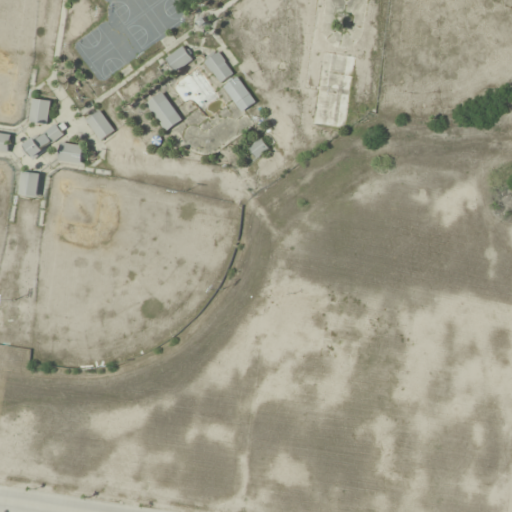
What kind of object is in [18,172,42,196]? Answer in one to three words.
building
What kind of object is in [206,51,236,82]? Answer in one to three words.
building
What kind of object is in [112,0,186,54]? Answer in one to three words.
basketball court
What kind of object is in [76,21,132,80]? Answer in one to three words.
basketball court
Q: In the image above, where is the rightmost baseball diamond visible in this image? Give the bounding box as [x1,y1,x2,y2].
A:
[34,170,243,366]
